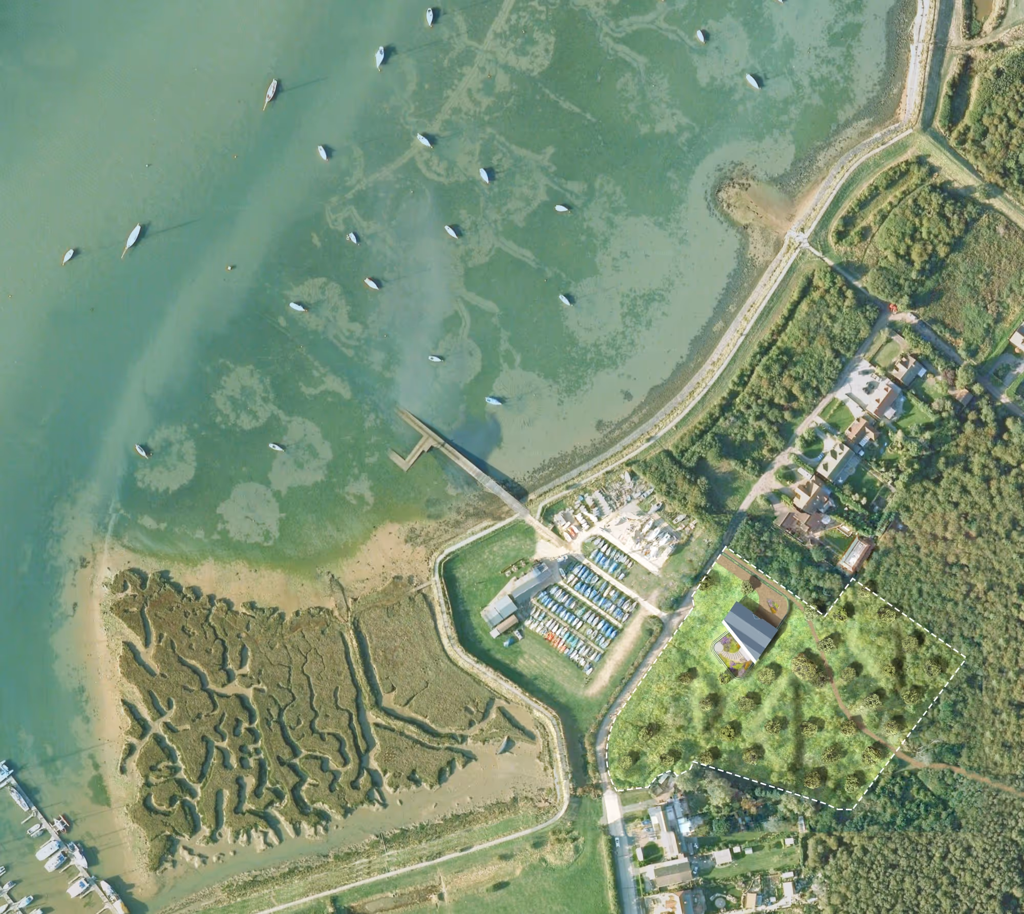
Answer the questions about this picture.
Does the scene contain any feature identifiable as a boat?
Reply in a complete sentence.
Yes, there is a boat in the image.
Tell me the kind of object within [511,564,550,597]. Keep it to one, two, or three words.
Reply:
building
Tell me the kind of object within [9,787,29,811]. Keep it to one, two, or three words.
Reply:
boat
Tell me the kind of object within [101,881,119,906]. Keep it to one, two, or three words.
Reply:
boat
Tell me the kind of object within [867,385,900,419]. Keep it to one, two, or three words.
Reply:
house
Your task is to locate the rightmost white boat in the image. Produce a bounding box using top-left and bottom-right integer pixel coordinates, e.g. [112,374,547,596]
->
[745,71,760,88]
